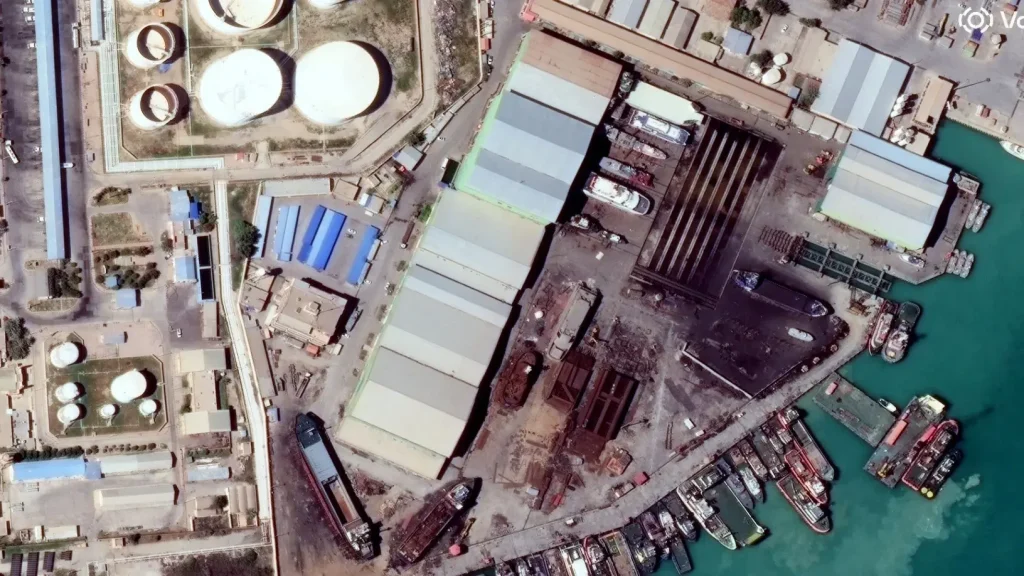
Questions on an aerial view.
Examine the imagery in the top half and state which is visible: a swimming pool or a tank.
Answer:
tank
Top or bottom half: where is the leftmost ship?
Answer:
bottom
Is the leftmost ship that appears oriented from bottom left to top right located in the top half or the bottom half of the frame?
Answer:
bottom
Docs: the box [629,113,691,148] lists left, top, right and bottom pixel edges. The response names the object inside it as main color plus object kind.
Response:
white vessel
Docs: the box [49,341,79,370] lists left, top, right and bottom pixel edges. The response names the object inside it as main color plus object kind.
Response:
white storage tank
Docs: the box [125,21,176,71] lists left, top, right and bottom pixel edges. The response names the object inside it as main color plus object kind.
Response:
white storage tank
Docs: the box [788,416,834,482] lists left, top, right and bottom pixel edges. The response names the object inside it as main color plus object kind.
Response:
gray ship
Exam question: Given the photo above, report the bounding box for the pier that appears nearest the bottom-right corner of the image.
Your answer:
[811,372,897,448]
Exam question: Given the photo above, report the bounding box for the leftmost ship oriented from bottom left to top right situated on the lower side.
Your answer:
[391,479,474,564]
